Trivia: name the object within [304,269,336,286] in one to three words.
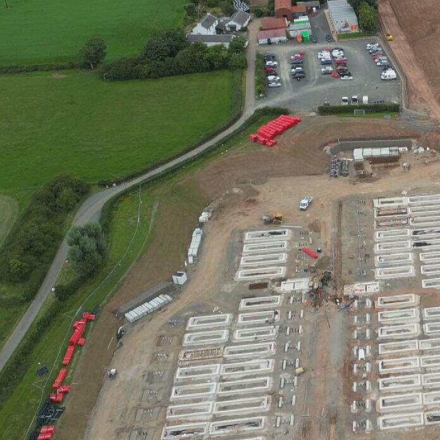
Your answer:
work vehicle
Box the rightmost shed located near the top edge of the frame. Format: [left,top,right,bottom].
[327,0,358,32]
